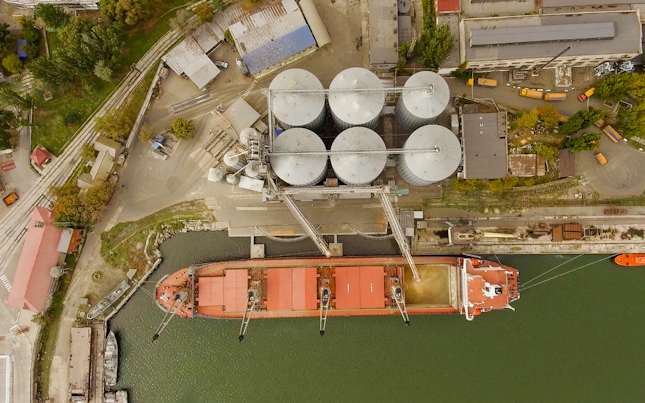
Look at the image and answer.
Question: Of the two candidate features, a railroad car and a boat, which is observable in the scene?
boat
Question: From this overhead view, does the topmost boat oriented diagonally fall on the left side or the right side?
left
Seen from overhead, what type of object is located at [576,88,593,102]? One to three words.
vehicle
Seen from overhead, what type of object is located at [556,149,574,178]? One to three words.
shed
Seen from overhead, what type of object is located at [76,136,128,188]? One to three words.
house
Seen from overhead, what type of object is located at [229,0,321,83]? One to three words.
building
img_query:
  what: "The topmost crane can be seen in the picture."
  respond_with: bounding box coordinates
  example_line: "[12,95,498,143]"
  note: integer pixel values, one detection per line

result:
[445,220,522,247]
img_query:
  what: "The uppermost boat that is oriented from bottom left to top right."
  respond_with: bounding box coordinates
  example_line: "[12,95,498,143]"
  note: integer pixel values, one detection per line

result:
[87,281,130,319]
